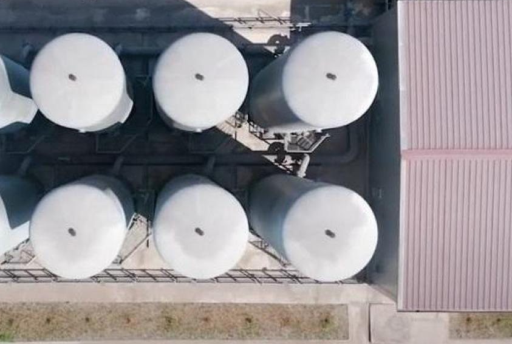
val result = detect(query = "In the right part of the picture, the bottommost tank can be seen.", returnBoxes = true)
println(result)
[244,151,378,280]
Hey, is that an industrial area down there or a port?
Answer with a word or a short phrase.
industrial area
